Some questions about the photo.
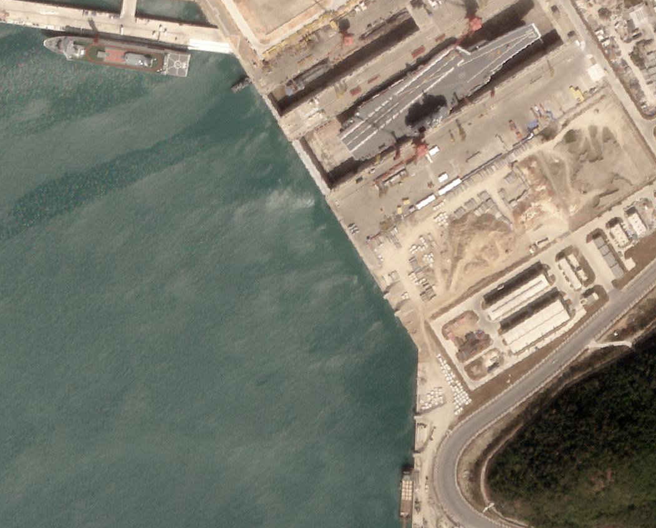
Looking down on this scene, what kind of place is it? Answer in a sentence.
The area seen from above is a port.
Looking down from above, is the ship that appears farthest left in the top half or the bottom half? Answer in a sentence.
The top half of the photo is where the ship that appears farthest left is.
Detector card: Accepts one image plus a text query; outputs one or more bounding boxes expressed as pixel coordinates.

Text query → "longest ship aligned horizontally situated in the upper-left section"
[44,27,190,76]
